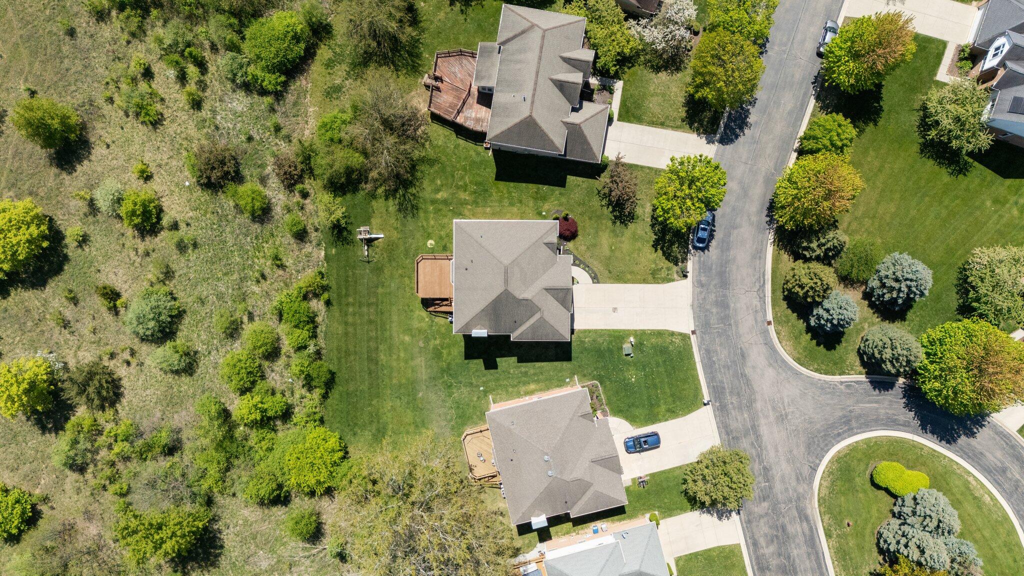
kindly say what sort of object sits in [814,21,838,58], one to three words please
car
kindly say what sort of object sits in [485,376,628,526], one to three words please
house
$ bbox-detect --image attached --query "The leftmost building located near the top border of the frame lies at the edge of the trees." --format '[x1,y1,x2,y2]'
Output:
[473,3,611,165]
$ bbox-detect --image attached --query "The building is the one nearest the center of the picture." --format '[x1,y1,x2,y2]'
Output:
[450,220,573,341]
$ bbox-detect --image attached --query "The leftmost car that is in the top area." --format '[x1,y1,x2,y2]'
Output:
[692,212,715,248]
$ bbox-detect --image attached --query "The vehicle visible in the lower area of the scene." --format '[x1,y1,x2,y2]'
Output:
[624,433,661,453]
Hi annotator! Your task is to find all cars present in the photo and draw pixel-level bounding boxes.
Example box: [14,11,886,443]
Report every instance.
[624,433,661,453]
[814,21,838,58]
[692,212,715,248]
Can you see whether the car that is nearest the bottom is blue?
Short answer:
Yes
